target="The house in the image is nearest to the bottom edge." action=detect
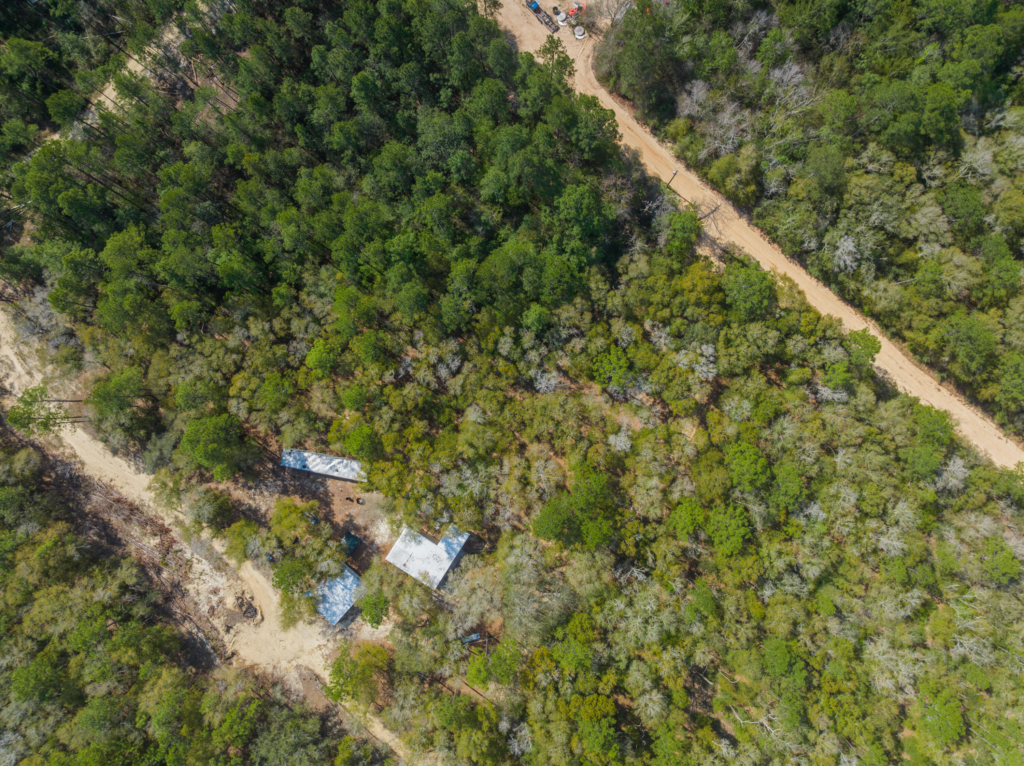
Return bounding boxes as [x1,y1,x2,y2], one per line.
[306,563,365,625]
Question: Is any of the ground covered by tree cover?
Yes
